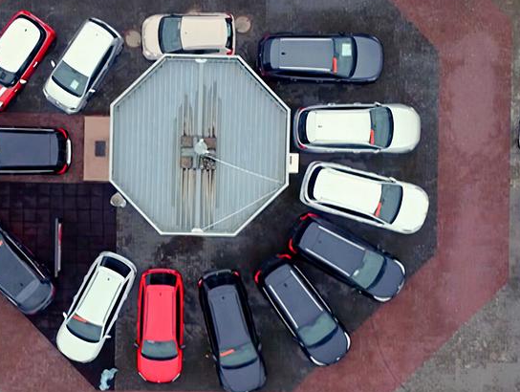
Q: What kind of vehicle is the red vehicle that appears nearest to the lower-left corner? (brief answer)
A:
car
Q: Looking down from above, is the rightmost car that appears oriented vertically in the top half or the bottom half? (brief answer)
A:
bottom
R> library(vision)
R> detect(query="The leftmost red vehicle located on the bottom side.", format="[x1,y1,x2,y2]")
[130,269,188,381]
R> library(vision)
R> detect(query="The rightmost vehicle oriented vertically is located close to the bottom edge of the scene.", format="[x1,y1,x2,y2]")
[197,269,265,392]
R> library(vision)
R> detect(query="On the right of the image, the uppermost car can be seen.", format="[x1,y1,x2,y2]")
[258,26,383,86]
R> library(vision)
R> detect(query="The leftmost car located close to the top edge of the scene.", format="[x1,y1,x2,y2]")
[0,8,56,111]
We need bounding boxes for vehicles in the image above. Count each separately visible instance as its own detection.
[130,269,188,381]
[256,255,349,366]
[301,160,428,232]
[289,209,406,300]
[294,98,420,157]
[0,123,71,176]
[43,17,123,114]
[197,269,265,392]
[142,7,235,61]
[258,26,383,86]
[0,221,55,319]
[60,249,139,366]
[0,8,56,111]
